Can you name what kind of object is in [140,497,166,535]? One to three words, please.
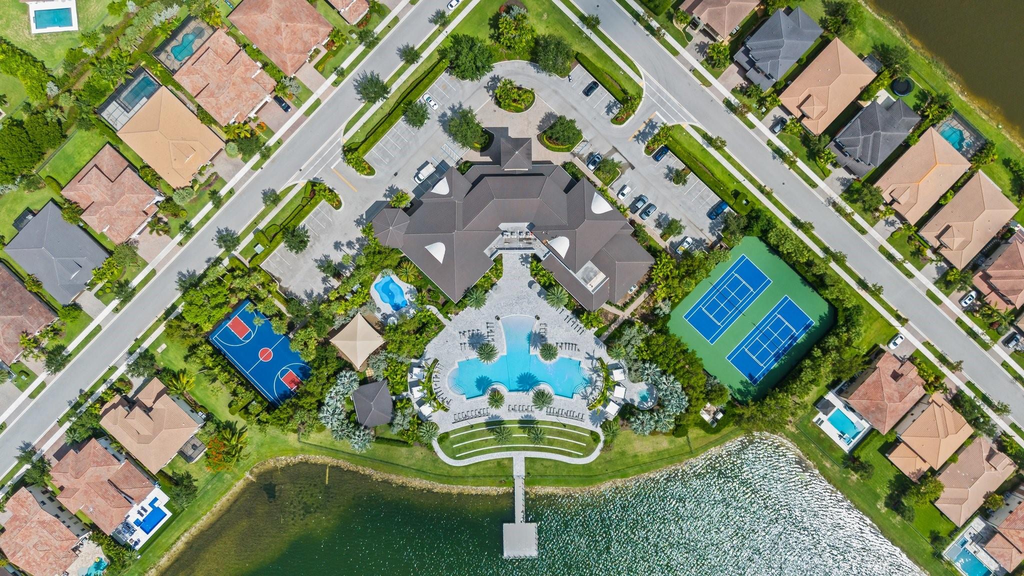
swimming pool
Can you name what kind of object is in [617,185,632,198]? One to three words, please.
vehicle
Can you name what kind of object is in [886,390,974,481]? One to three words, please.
house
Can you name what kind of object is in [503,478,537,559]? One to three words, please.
pier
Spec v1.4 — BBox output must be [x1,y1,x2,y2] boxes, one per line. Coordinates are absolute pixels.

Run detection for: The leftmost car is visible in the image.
[274,96,291,112]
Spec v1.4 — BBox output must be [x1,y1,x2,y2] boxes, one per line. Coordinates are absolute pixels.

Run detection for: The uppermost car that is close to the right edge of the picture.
[960,291,976,307]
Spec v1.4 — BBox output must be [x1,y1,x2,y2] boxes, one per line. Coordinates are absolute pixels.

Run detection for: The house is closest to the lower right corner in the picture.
[979,493,1024,571]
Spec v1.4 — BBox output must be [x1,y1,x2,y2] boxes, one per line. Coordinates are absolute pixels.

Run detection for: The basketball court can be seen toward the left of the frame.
[210,297,320,406]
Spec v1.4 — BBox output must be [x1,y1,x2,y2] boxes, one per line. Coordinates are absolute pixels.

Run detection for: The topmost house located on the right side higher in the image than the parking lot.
[679,0,761,41]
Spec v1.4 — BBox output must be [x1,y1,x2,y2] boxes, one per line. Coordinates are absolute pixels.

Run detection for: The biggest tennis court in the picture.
[667,236,835,404]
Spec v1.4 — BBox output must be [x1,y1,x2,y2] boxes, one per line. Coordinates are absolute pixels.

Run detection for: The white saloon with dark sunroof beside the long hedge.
[422,93,439,110]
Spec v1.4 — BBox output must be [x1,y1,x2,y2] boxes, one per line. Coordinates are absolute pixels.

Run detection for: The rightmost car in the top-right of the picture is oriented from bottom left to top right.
[772,116,787,133]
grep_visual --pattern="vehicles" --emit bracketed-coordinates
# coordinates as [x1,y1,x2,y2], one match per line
[617,185,632,198]
[415,159,436,183]
[641,204,657,220]
[1005,333,1021,349]
[446,0,462,12]
[274,96,291,112]
[675,235,694,253]
[772,116,787,133]
[960,291,976,307]
[888,334,905,351]
[709,200,729,220]
[653,145,669,162]
[583,80,599,97]
[422,93,439,110]
[631,192,650,212]
[587,154,603,170]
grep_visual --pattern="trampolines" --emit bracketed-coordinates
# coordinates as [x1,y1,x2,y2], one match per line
[892,76,918,97]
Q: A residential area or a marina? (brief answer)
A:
residential area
